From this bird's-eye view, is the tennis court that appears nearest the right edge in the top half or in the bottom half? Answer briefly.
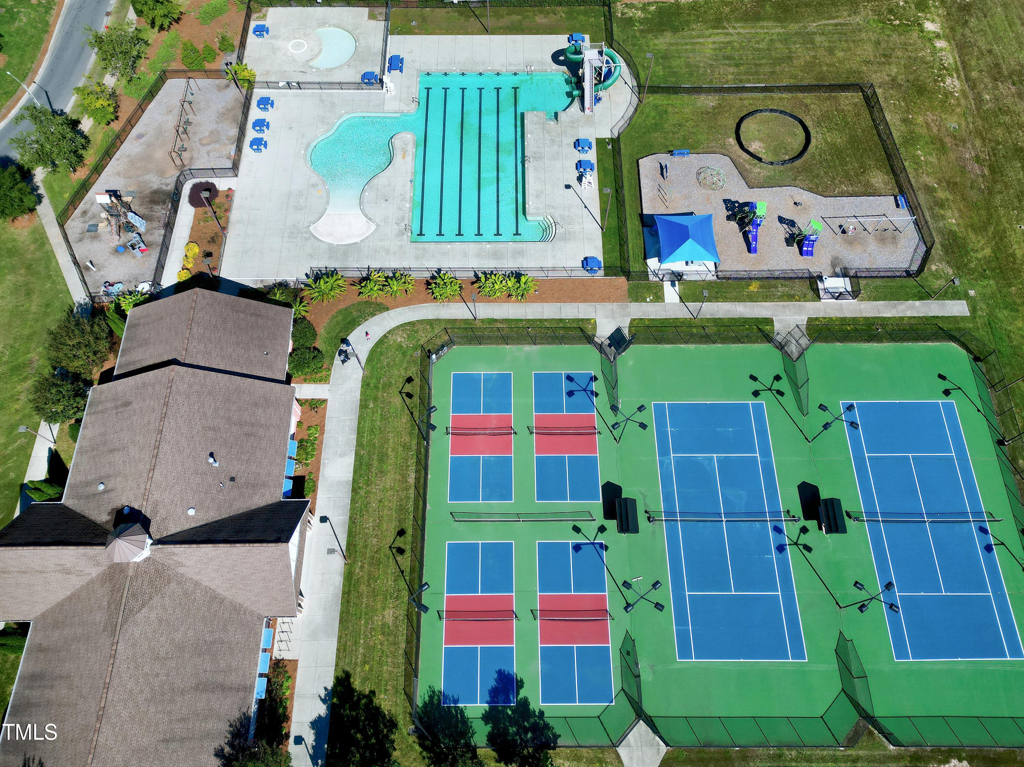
bottom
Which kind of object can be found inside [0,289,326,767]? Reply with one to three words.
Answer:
building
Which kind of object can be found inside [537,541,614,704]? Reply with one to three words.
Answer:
sports court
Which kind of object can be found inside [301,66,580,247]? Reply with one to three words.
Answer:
swimming pool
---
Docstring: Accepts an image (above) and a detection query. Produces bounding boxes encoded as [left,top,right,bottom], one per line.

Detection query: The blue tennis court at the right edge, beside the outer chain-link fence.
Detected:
[840,400,1024,661]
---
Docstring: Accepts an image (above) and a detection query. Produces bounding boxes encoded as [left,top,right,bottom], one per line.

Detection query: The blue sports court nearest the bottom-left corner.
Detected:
[442,542,515,705]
